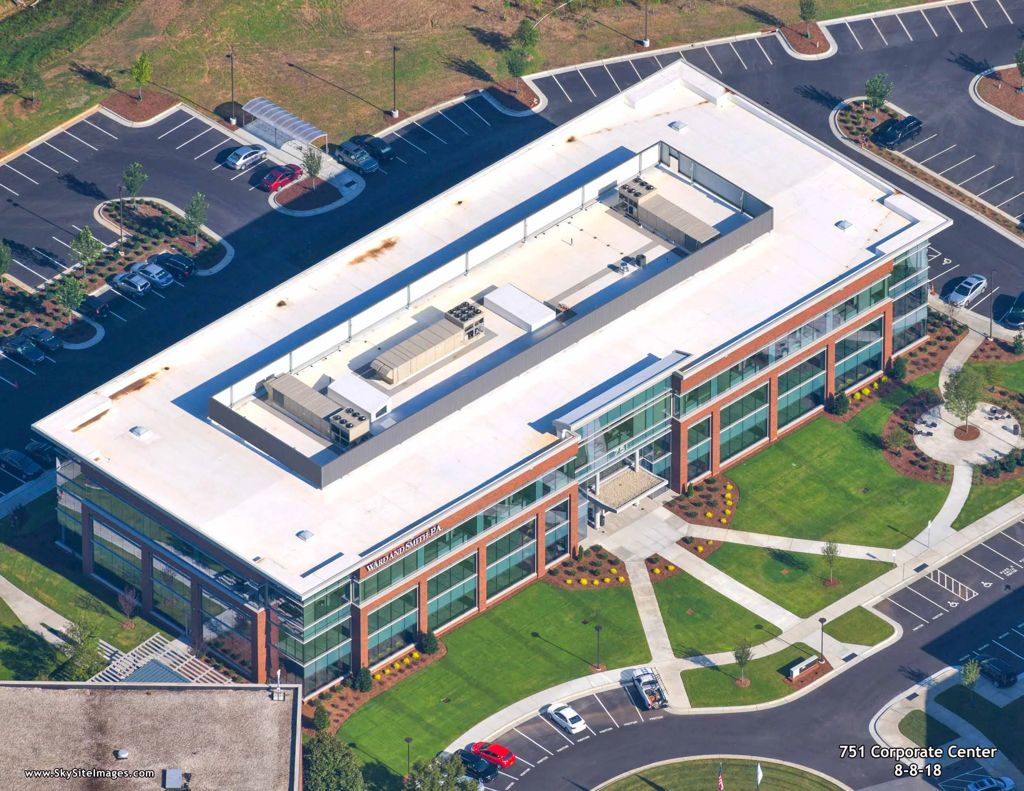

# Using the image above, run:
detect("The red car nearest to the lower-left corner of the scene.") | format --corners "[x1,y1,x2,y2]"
[472,742,516,771]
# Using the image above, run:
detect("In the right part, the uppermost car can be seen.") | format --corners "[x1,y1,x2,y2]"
[879,116,923,150]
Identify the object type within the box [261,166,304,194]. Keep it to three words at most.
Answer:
car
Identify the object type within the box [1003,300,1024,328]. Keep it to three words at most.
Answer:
car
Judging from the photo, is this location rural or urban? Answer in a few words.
urban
